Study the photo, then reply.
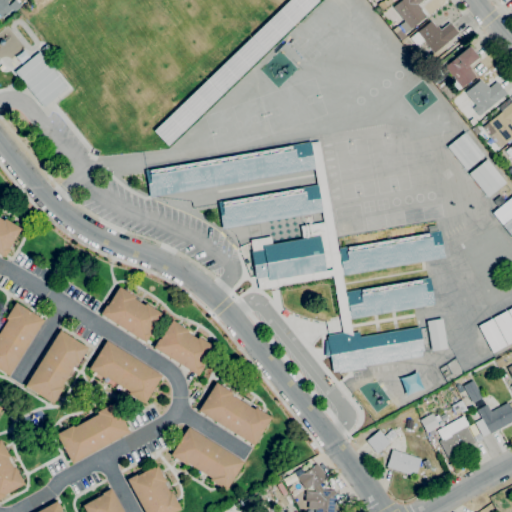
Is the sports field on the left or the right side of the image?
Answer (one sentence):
The sports field is on the left side of the image.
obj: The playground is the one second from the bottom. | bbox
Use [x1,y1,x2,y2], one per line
[405,81,438,114]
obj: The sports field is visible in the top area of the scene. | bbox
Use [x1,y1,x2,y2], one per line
[31,0,288,156]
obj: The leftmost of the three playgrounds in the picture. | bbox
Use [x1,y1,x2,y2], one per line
[262,52,297,87]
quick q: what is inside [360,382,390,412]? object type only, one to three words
playground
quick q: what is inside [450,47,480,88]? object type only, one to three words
house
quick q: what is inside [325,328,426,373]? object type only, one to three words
building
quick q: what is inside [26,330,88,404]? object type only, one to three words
building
